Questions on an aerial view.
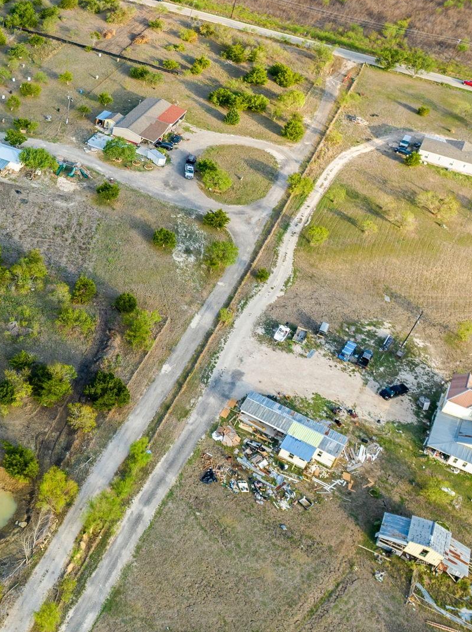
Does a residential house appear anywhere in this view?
Yes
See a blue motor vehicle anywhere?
Yes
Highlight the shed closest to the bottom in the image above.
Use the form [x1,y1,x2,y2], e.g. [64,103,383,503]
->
[378,512,471,581]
